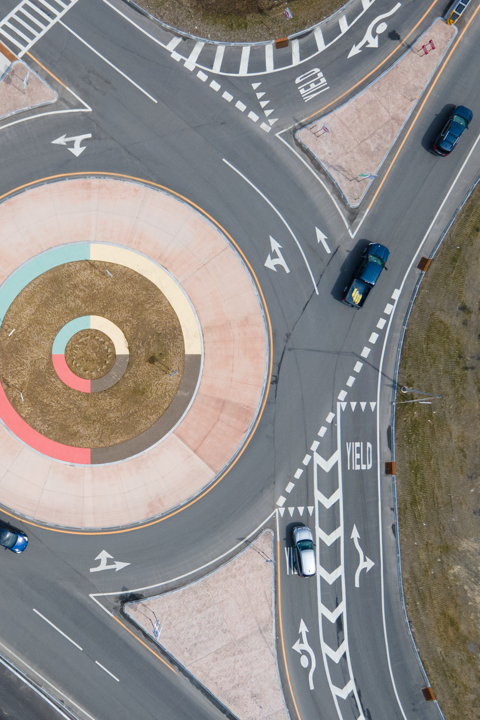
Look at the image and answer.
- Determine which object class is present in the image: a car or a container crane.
car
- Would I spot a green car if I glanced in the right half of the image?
No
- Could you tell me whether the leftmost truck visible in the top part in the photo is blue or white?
blue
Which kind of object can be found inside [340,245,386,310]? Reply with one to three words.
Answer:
truck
